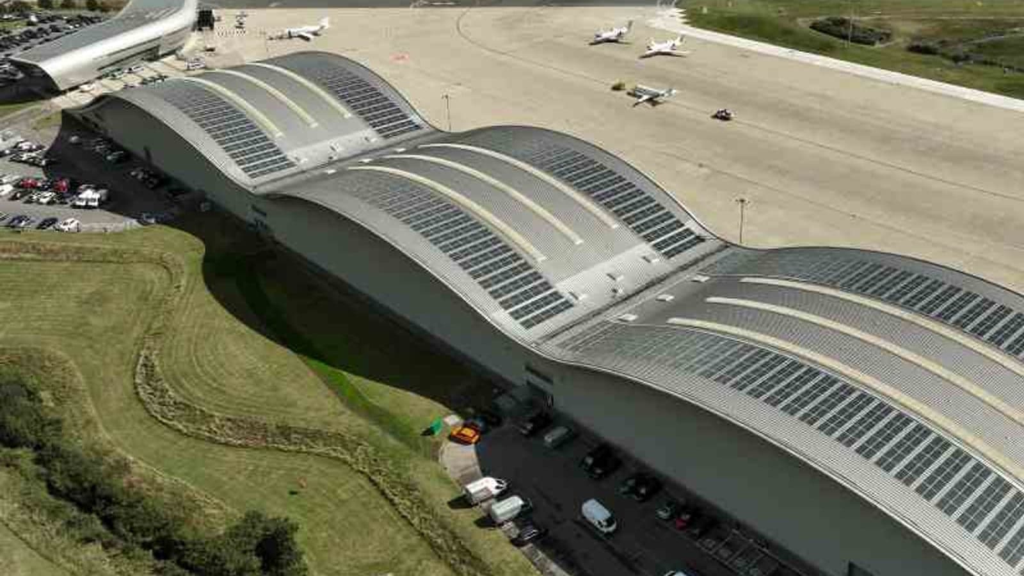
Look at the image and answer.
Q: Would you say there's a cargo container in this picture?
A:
No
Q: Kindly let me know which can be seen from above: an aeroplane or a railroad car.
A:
aeroplane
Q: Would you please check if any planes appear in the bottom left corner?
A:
No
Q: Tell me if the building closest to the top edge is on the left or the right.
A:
left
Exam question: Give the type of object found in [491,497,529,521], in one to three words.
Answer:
vehicle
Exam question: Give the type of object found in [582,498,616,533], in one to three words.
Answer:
van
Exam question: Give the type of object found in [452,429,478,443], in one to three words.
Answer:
car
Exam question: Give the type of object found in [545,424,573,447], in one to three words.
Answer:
vehicle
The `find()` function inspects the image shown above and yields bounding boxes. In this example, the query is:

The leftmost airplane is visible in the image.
[276,14,333,38]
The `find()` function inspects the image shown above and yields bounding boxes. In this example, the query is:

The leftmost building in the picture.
[8,0,214,91]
